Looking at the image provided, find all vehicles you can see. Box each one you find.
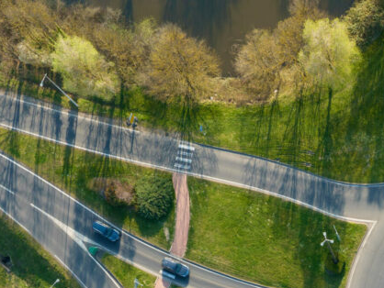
[91,220,122,241]
[160,258,189,278]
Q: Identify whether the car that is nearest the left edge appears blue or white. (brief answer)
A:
blue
